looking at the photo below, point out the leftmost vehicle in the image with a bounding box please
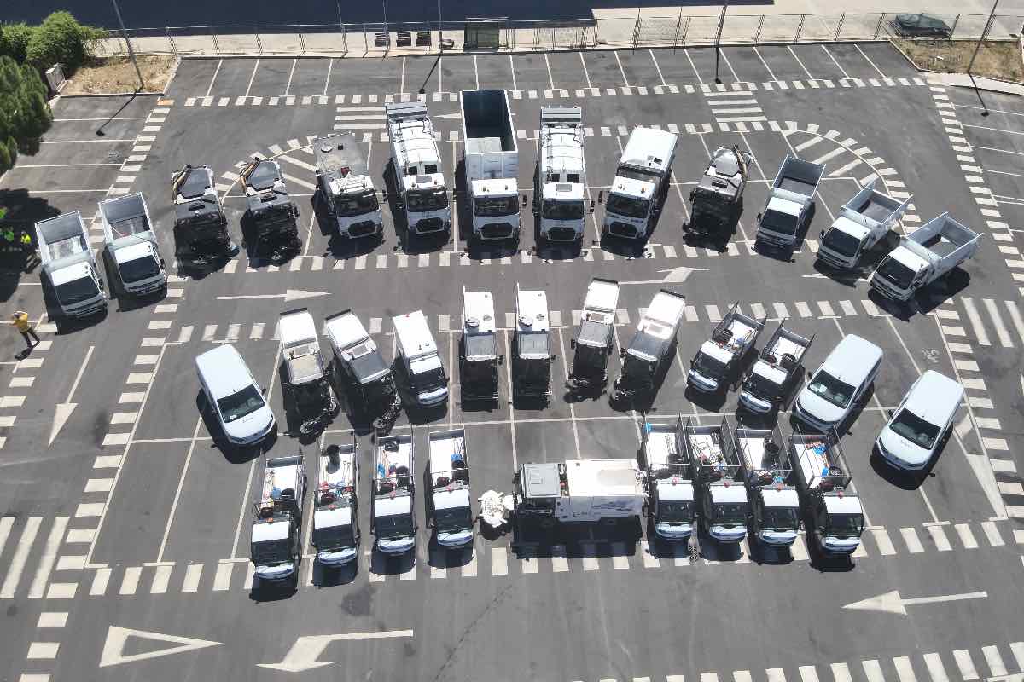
[34,211,110,325]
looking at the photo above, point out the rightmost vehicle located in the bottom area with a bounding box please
[874,373,966,473]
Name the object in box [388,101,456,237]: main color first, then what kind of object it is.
white truck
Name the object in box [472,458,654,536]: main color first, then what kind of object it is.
white vehicle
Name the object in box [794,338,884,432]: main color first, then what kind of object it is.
white van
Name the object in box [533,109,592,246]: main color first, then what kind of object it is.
white truck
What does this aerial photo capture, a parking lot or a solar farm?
parking lot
